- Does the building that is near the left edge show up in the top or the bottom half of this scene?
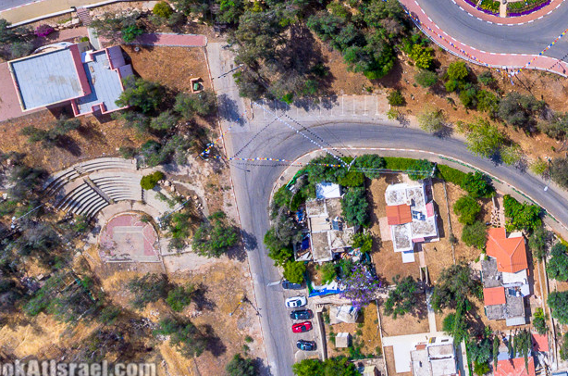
top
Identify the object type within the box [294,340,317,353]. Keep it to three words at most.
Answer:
vehicle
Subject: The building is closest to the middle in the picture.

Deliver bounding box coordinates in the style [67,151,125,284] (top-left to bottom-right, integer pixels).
[306,179,360,262]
